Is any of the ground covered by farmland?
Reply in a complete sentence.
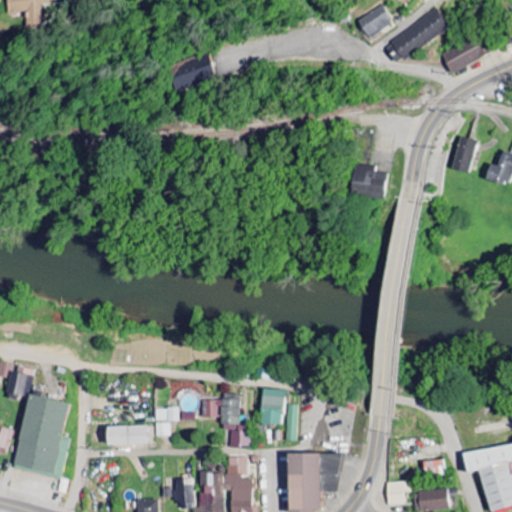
No, the scene doesn't show any farmland.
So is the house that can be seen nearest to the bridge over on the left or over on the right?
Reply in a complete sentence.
The house that can be seen nearest to the bridge appears in the right half of the scene.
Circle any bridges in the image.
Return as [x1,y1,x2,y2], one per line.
[370,189,424,412]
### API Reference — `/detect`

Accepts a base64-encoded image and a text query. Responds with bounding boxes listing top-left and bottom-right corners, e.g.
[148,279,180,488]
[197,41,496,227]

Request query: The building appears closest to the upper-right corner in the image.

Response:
[444,42,489,74]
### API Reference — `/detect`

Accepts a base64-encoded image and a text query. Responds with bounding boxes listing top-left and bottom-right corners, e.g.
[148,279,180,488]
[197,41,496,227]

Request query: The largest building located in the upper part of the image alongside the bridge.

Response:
[351,164,392,199]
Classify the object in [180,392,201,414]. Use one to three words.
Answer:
swimming pool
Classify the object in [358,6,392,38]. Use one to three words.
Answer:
house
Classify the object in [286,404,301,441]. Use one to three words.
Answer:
barn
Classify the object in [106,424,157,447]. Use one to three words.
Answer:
building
